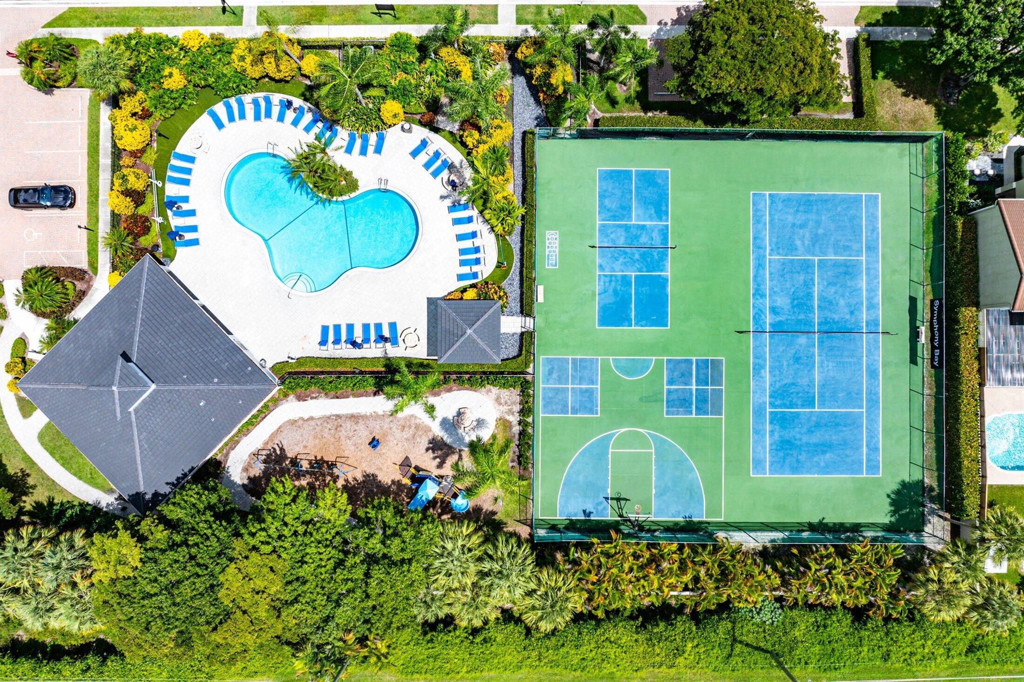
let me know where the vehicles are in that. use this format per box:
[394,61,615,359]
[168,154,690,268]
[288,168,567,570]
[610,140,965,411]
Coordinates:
[10,183,72,211]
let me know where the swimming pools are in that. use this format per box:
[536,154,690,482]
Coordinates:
[988,410,1024,473]
[220,138,423,298]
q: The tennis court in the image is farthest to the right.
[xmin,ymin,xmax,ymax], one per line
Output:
[751,192,882,476]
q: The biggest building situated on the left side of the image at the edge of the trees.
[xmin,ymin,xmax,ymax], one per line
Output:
[16,253,283,514]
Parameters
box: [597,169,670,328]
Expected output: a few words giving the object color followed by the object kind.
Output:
blue sports court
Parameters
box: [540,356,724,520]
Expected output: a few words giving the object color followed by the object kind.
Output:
blue basketball court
